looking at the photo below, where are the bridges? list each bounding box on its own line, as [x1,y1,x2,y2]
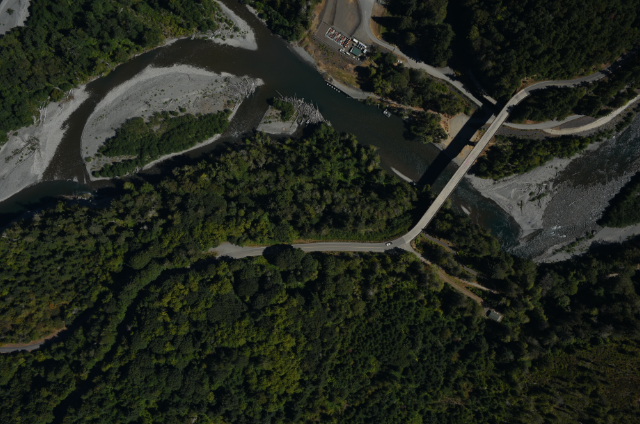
[402,87,531,243]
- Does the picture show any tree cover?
Yes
